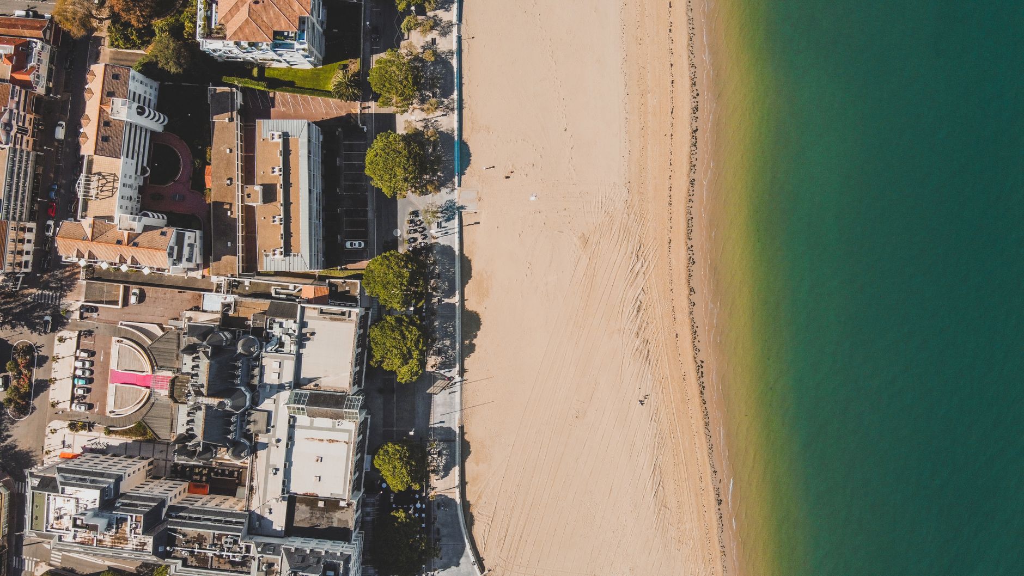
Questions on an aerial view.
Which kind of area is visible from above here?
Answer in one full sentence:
It's a beach.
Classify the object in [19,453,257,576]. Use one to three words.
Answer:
building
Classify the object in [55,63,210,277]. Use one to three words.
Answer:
house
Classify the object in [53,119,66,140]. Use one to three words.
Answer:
vehicle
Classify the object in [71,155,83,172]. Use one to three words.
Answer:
vehicle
